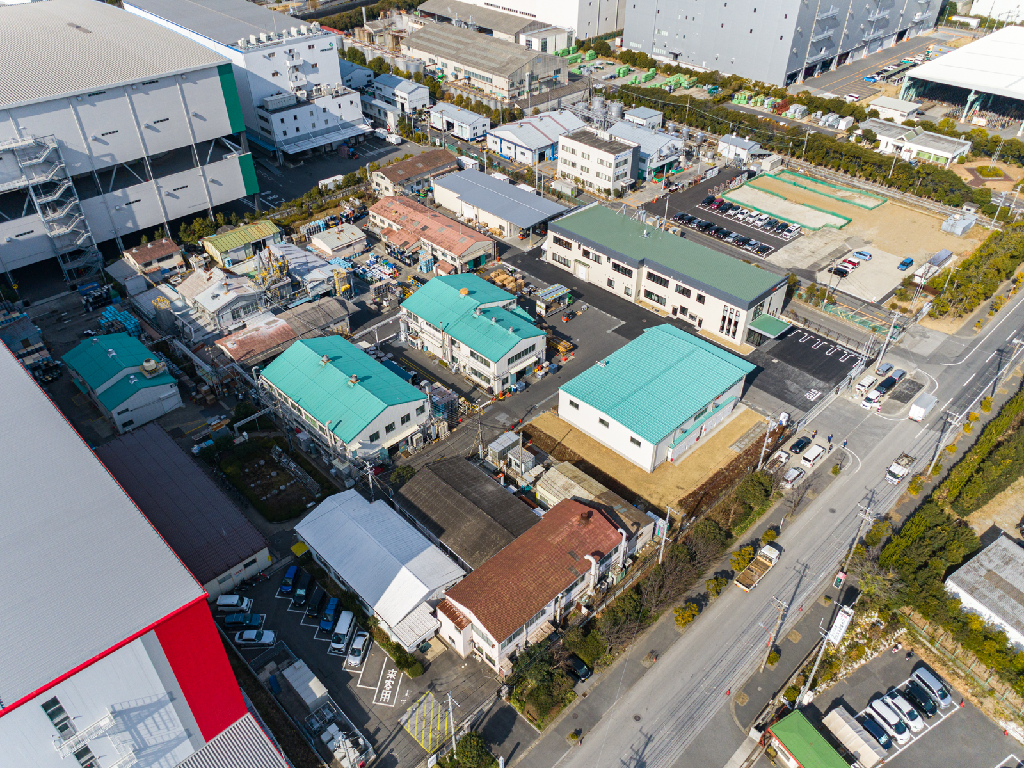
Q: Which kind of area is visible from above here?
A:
industrial area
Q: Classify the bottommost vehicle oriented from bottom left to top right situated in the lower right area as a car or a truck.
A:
truck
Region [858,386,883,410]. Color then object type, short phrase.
white car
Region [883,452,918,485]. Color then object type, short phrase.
white truck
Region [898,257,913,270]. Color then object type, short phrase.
blue vehicle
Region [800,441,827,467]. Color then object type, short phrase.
white car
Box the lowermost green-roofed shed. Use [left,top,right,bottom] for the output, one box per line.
[763,706,857,768]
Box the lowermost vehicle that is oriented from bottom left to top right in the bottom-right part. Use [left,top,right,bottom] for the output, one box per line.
[728,541,784,596]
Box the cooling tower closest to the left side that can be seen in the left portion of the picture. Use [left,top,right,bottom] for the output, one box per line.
[139,354,157,371]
